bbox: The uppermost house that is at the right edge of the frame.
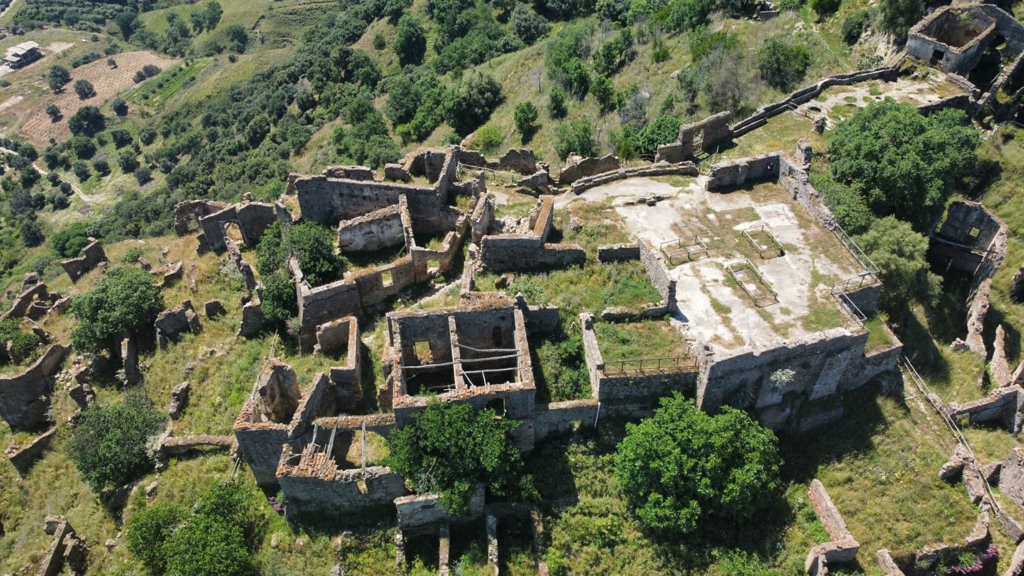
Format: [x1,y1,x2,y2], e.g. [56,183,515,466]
[901,5,999,83]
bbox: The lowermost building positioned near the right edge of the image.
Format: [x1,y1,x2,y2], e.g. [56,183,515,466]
[934,381,1024,444]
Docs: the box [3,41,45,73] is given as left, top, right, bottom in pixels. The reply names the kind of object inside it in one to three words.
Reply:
house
